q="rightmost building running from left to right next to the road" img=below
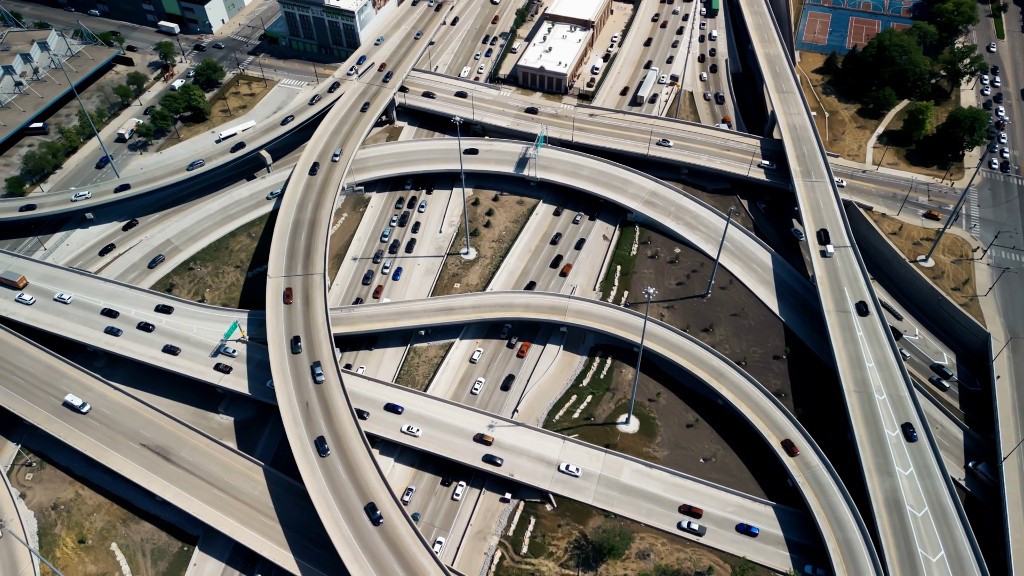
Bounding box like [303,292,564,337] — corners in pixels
[272,0,404,53]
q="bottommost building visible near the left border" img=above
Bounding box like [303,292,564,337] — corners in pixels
[0,28,124,150]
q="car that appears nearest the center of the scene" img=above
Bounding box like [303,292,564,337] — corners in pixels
[524,278,536,291]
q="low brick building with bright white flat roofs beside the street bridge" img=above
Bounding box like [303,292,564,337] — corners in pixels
[516,0,622,94]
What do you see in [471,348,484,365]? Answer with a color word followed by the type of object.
white vehicle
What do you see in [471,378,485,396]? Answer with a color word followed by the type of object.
white car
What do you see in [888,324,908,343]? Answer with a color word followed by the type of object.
black vehicle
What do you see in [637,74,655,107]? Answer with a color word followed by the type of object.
white vehicle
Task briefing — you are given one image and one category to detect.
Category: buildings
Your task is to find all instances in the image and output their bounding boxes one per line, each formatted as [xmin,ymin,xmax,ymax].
[516,0,622,94]
[272,0,404,53]
[11,0,251,34]
[0,28,124,150]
